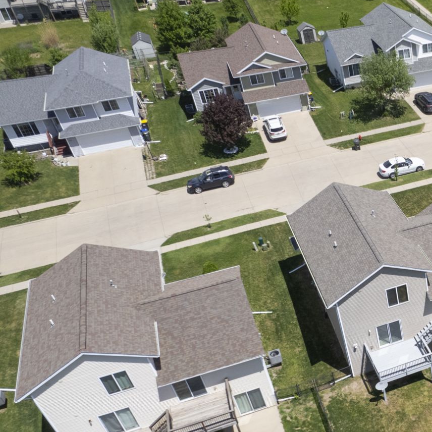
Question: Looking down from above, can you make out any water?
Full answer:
No, water can't be seen anywhere here.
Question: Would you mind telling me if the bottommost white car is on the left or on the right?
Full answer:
It is on the right.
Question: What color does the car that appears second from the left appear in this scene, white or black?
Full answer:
The car that appears second from the left looks white in the image.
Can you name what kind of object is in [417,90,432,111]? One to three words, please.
car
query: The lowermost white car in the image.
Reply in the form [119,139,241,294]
[379,156,426,179]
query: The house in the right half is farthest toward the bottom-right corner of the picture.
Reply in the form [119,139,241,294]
[285,182,432,389]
